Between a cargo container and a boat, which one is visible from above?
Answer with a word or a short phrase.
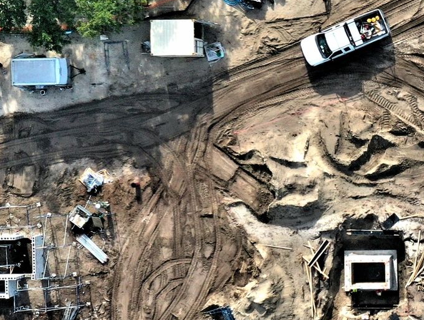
cargo container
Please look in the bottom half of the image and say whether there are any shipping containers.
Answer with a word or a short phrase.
No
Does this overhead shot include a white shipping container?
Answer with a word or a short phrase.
Yes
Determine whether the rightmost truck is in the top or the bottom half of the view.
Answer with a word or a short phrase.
top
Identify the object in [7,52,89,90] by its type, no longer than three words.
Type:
trailer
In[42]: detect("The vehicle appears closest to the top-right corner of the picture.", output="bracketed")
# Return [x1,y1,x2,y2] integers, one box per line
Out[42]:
[301,8,397,68]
